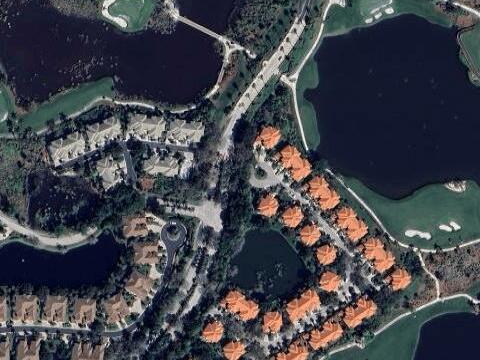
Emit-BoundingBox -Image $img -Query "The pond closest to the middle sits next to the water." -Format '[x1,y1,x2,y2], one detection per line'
[229,228,308,299]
